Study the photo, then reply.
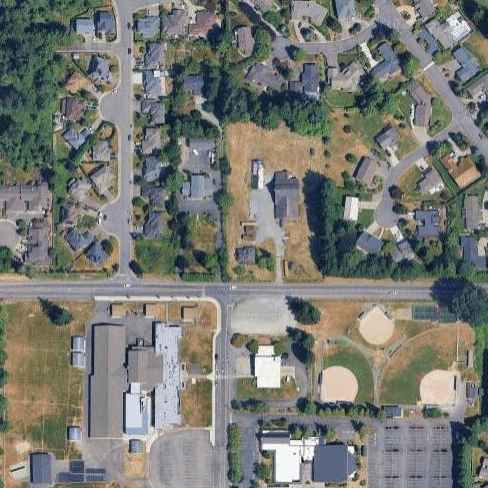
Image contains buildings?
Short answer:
Yes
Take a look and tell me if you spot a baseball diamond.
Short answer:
Yes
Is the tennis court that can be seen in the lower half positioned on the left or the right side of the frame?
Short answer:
right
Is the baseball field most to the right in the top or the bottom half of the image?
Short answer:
bottom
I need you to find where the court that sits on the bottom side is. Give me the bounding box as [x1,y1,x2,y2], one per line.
[411,305,458,324]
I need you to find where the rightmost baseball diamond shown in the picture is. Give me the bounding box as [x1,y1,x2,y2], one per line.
[378,357,464,407]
